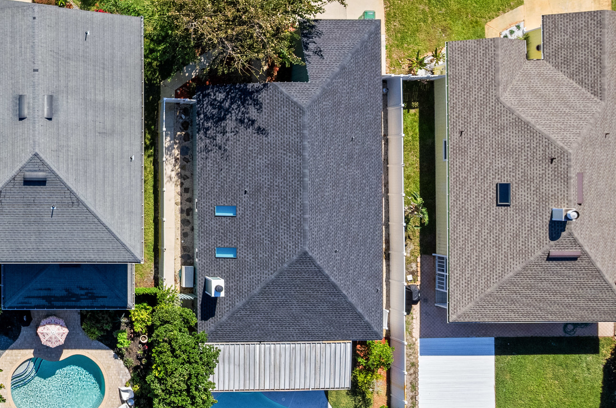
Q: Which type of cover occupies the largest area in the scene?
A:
buildings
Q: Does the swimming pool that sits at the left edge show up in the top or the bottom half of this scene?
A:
bottom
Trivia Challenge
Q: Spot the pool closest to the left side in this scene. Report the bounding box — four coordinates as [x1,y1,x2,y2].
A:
[12,356,105,408]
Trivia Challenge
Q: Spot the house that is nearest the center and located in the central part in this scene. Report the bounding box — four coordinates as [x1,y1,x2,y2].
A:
[194,18,393,342]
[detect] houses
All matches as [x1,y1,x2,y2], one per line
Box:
[435,10,616,325]
[0,0,144,312]
[194,18,393,342]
